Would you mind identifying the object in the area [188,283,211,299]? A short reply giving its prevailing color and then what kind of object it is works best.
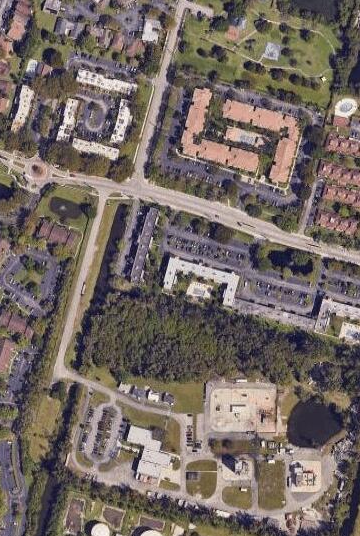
white swimming pool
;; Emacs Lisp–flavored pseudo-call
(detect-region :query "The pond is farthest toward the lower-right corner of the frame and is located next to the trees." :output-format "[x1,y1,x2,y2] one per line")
[289,400,342,444]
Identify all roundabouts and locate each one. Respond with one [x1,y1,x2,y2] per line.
[25,154,54,184]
